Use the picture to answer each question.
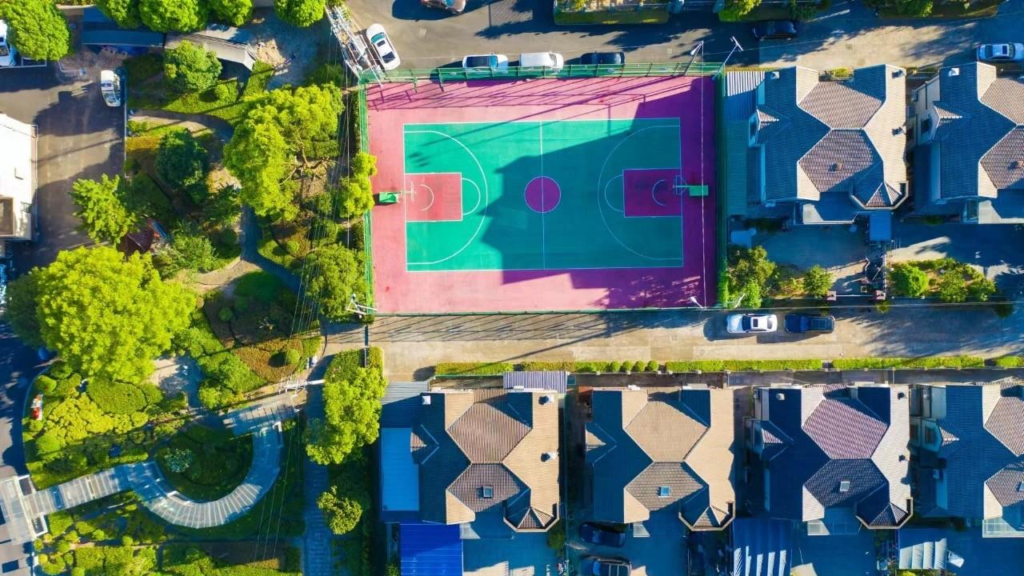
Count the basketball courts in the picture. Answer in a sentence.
In total, there is 1 basketball court in the scene.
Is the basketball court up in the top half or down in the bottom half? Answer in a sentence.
The basketball court is in the top half of the image.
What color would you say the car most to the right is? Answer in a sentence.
The color of the car most to the right is blue.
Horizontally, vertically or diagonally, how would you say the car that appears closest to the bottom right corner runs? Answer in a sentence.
I'd say the car that appears closest to the bottom right corner is aligned horizontally in the picture.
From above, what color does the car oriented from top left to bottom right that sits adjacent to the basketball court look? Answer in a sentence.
The color of the car oriented from top left to bottom right that sits adjacent to the basketball court is white.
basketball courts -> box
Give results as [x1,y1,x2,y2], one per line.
[367,75,720,315]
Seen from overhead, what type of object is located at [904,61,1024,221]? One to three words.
house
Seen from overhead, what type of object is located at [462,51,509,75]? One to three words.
car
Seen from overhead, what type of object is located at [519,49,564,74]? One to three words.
vehicle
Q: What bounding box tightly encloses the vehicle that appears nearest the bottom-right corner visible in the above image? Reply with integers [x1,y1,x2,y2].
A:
[782,311,834,335]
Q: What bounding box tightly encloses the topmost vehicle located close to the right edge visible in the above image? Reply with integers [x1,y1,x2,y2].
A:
[972,40,1024,64]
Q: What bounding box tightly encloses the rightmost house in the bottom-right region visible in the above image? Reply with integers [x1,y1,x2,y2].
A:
[910,382,1024,532]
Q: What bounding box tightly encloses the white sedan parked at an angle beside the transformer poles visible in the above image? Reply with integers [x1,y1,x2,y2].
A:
[366,23,403,74]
